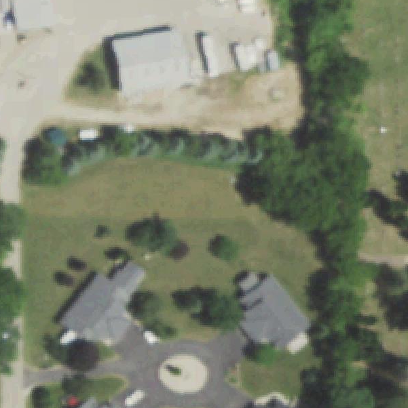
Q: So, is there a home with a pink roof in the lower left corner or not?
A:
No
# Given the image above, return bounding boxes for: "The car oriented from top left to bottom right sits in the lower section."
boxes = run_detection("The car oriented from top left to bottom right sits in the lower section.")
[143,331,159,345]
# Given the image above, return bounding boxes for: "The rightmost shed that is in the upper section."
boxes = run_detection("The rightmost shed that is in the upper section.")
[108,25,190,95]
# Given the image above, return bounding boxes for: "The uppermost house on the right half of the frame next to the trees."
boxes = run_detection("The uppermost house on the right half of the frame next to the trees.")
[234,272,307,352]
